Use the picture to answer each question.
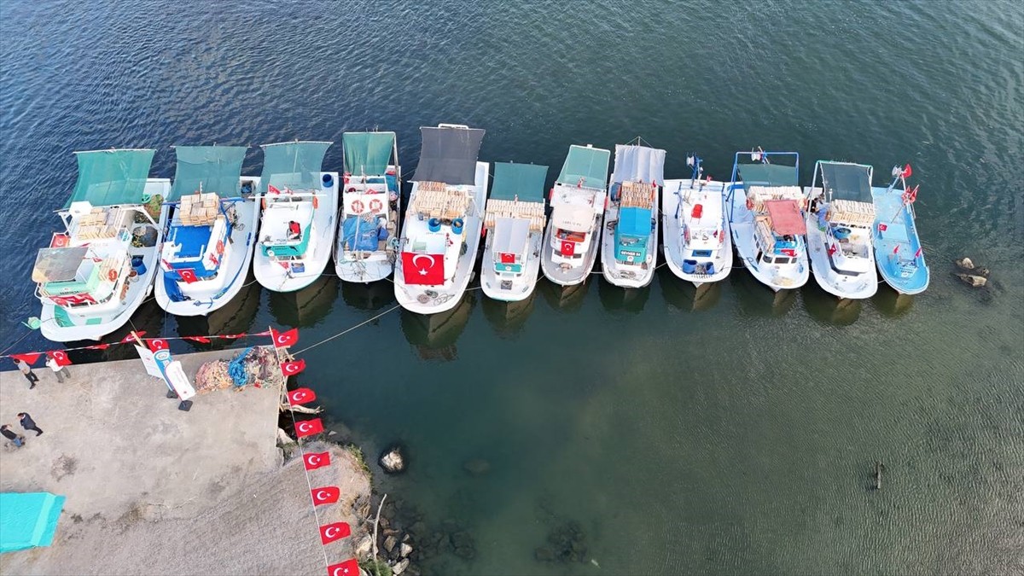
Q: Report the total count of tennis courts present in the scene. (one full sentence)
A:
I count no tennis courts.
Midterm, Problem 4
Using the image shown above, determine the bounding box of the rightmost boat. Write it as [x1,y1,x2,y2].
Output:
[857,151,925,296]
